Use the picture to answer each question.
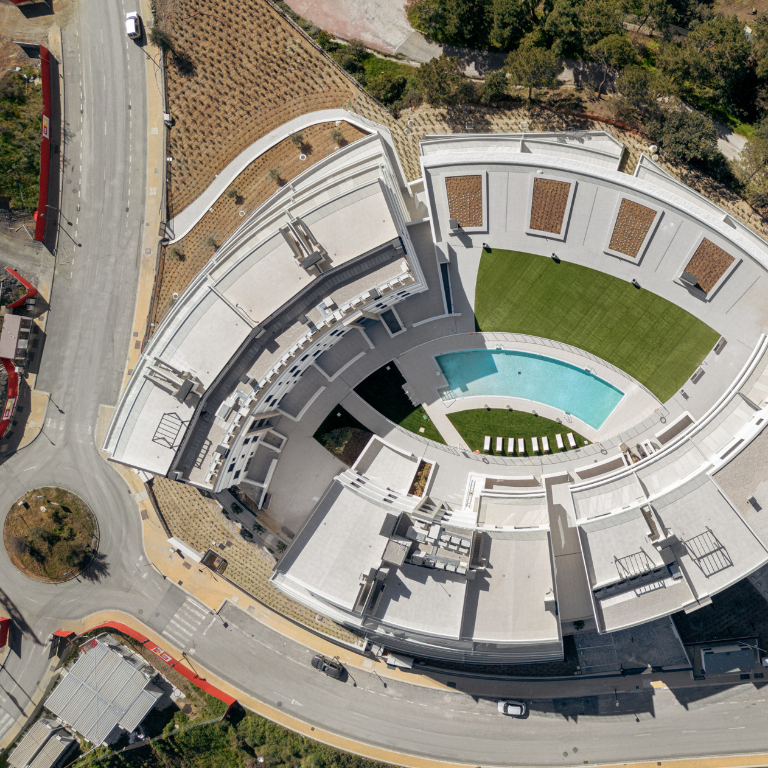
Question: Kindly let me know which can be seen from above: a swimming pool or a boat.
swimming pool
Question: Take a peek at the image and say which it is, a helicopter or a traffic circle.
traffic circle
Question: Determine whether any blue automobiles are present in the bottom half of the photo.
No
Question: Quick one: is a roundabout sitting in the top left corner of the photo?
No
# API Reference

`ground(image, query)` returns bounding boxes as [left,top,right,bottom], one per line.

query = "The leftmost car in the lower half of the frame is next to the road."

[307,650,343,679]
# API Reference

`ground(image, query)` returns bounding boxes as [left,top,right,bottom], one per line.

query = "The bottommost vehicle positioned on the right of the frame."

[494,702,527,720]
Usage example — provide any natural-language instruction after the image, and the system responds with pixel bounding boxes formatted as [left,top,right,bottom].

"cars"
[494,702,527,720]
[307,650,343,679]
[119,8,138,41]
